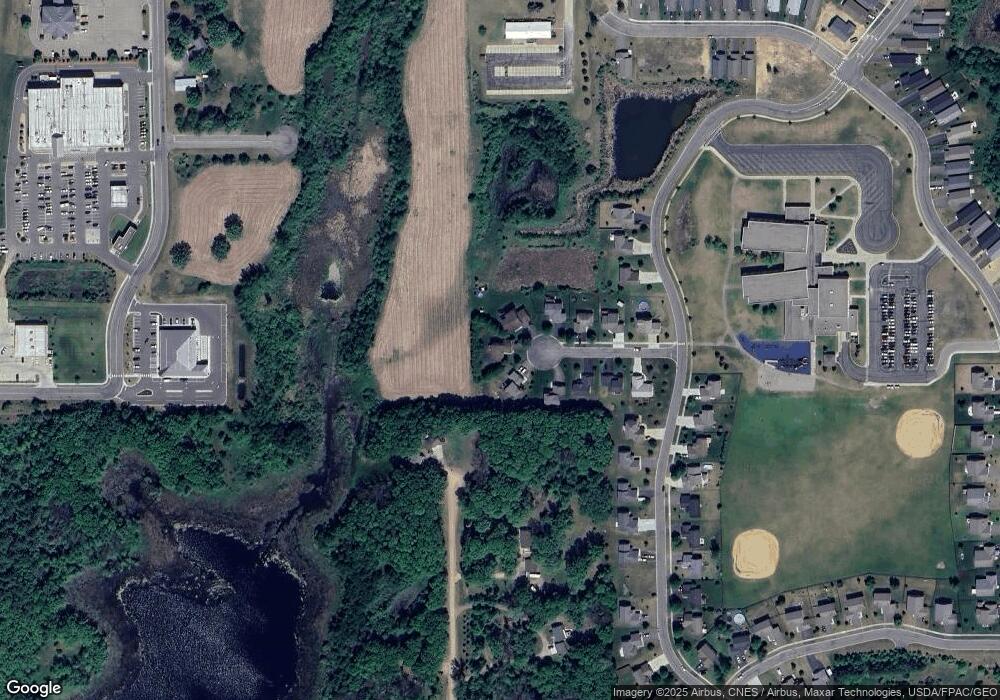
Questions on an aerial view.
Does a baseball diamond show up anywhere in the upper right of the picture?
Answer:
No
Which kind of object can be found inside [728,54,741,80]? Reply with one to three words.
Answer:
house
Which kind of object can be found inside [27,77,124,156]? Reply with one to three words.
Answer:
building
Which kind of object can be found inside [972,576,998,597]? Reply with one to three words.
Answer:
house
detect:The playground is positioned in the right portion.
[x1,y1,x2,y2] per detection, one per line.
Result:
[737,332,815,391]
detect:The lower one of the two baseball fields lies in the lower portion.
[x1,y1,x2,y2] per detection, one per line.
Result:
[732,528,778,579]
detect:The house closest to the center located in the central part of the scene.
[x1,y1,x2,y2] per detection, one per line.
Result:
[487,343,513,361]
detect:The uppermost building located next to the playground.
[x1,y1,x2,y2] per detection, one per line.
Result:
[742,207,858,341]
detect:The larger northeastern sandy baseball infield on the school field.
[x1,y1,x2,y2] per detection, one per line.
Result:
[896,408,943,458]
